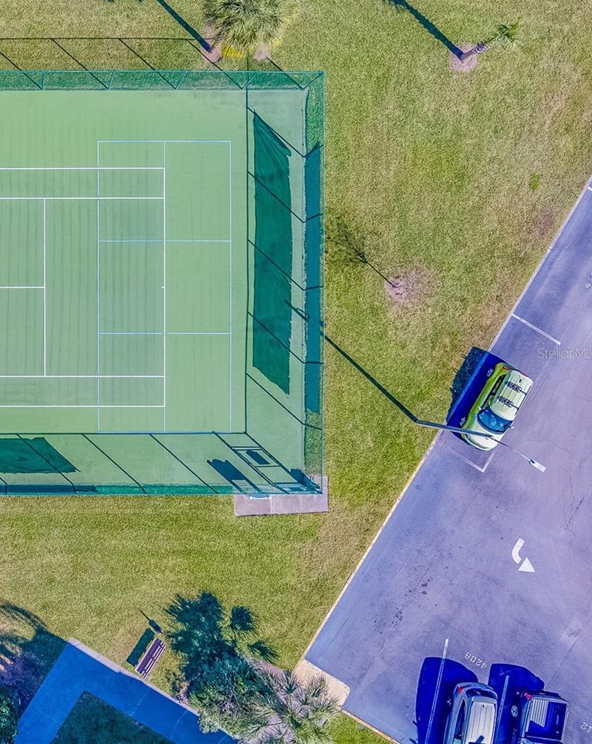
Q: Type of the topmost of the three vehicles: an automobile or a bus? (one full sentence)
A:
The topmost of the three vehicles in the image is an automobile.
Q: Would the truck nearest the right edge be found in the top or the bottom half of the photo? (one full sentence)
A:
You can find the truck nearest the right edge in the bottom half.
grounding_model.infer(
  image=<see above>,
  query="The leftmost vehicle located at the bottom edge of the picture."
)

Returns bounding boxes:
[441,681,503,744]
